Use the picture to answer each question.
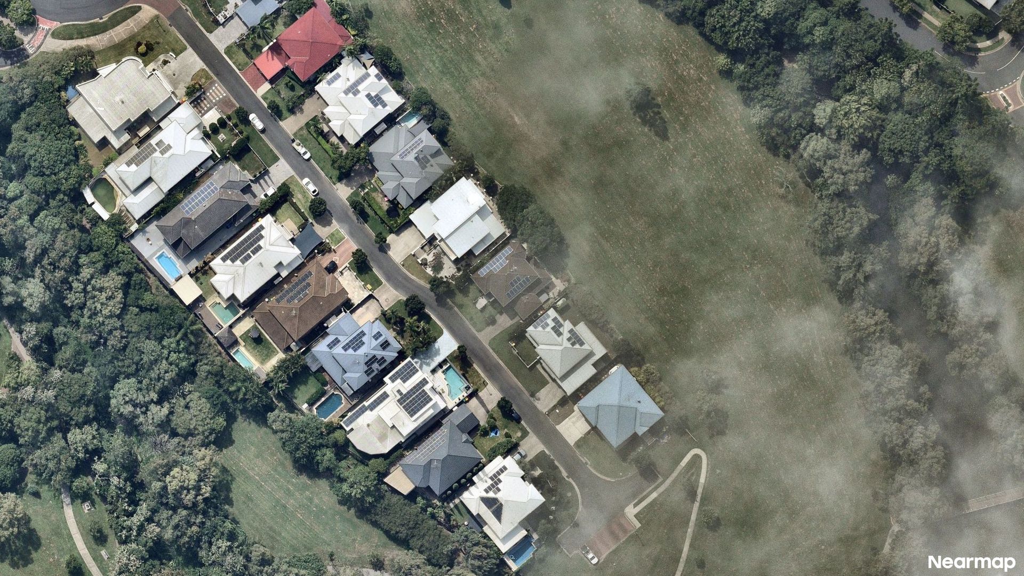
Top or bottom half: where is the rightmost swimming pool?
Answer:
bottom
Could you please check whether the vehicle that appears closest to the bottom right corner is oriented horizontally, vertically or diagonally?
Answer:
diagonally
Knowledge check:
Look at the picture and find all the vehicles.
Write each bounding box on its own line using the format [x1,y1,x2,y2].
[248,111,266,133]
[578,543,601,567]
[508,406,525,426]
[300,176,319,198]
[324,257,339,274]
[258,184,278,203]
[289,137,311,161]
[511,446,529,463]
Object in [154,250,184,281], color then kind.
blue swimming pool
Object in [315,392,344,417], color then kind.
blue swimming pool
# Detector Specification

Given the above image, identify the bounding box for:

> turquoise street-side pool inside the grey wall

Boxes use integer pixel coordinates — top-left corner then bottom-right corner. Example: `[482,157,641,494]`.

[443,365,465,401]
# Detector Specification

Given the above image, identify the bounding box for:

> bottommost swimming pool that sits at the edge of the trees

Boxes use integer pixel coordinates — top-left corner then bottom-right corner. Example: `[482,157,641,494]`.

[505,534,535,568]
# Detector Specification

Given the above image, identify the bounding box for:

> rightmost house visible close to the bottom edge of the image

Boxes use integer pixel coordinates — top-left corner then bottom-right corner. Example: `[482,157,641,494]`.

[459,454,546,553]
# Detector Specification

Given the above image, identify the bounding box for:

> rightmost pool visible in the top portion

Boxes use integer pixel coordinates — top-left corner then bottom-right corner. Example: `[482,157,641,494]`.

[397,110,423,128]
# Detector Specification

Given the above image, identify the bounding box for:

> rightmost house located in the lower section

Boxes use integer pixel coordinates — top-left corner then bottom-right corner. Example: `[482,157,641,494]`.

[577,364,664,454]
